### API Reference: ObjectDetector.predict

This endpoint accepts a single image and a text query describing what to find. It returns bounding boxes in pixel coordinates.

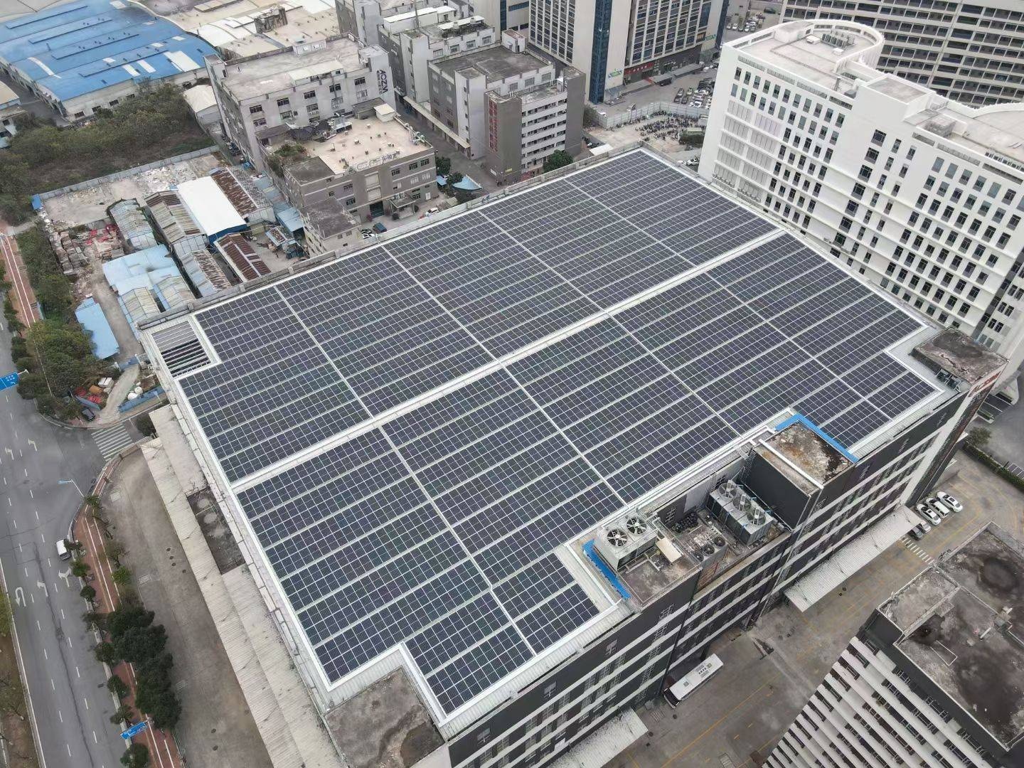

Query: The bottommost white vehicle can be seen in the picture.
[663,653,725,712]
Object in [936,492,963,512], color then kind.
white car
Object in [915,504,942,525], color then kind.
white car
